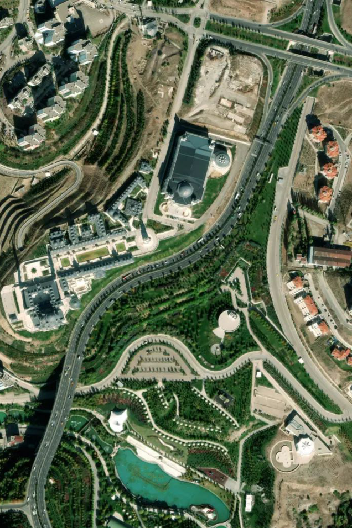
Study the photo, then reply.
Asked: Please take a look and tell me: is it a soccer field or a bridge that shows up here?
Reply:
bridge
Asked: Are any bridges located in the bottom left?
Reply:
Yes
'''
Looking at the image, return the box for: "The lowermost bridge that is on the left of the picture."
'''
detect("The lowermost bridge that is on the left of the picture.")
[33,357,84,464]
